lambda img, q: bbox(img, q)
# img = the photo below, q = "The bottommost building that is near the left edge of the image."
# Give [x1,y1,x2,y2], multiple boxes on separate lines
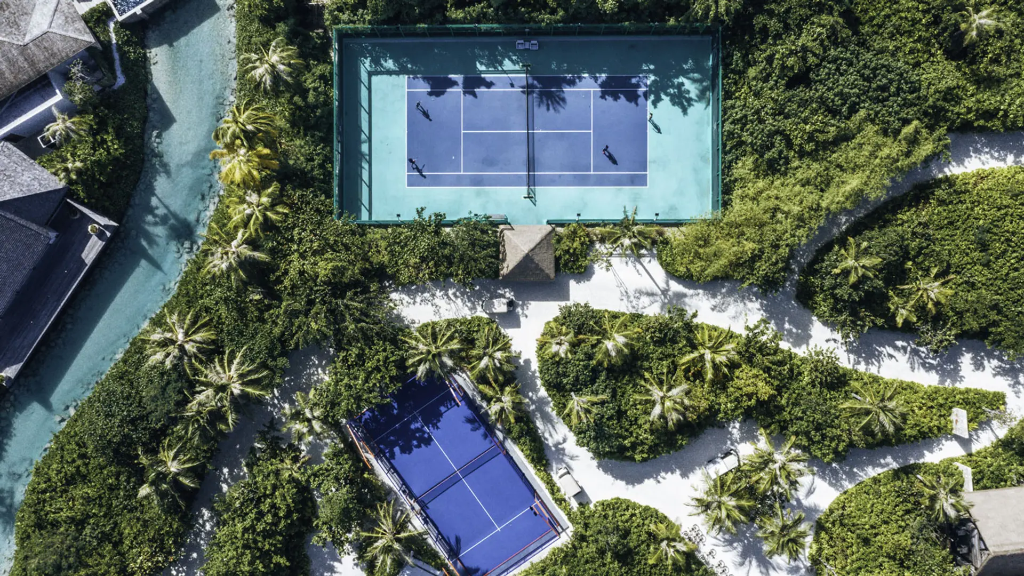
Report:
[0,142,123,392]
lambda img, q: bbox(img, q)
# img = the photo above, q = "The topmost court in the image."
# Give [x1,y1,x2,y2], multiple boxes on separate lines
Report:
[343,38,713,224]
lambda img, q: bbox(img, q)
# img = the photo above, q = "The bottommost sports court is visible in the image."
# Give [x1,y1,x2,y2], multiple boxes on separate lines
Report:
[345,360,569,576]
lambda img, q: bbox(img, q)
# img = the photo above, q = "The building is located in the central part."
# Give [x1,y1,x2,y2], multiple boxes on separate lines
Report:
[499,225,555,281]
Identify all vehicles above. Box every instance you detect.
[702,448,737,478]
[482,299,511,312]
[554,464,581,496]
